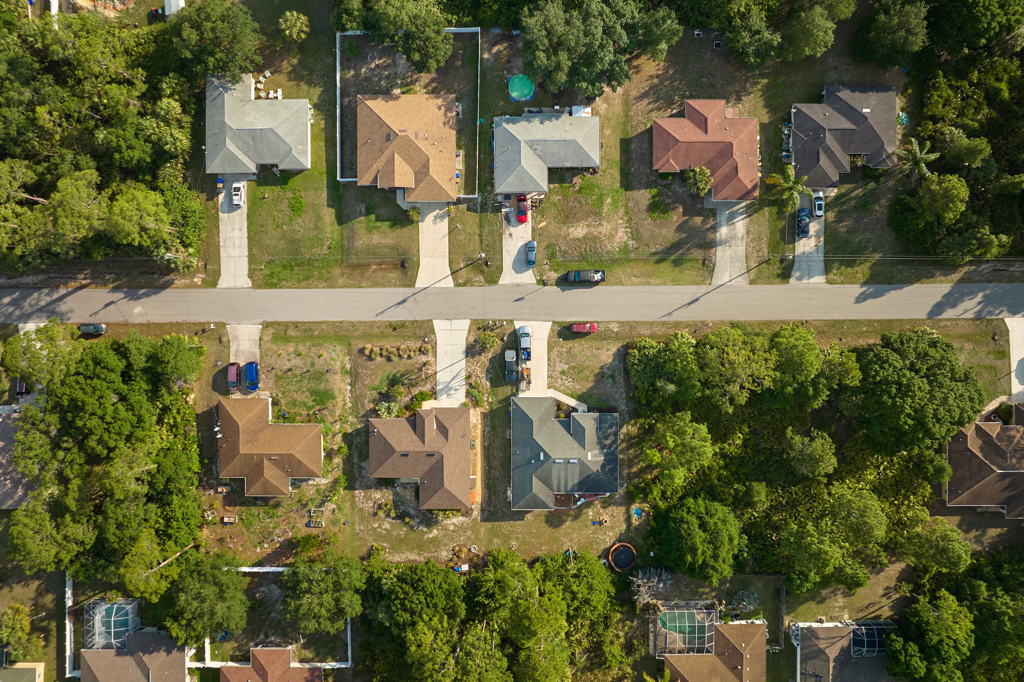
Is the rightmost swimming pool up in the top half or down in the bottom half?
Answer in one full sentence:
The rightmost swimming pool sits in the bottom half of the picture.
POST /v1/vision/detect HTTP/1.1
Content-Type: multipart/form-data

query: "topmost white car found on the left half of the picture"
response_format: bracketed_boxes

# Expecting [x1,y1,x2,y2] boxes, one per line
[230,182,245,208]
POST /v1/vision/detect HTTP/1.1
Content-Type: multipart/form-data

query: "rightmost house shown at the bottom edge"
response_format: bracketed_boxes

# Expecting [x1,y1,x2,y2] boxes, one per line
[797,623,903,682]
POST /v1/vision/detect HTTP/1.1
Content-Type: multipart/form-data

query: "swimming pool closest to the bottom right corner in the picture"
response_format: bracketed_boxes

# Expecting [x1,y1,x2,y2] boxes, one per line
[855,628,893,652]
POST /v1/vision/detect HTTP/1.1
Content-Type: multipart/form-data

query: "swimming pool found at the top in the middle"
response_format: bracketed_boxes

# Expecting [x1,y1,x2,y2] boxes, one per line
[508,73,535,101]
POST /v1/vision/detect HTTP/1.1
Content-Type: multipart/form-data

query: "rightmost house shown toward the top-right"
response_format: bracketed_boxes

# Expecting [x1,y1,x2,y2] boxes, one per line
[788,85,896,188]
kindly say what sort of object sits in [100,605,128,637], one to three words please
swimming pool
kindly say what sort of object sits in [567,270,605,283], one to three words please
vehicle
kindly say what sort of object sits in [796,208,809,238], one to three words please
vehicle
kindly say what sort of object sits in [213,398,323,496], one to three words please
house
